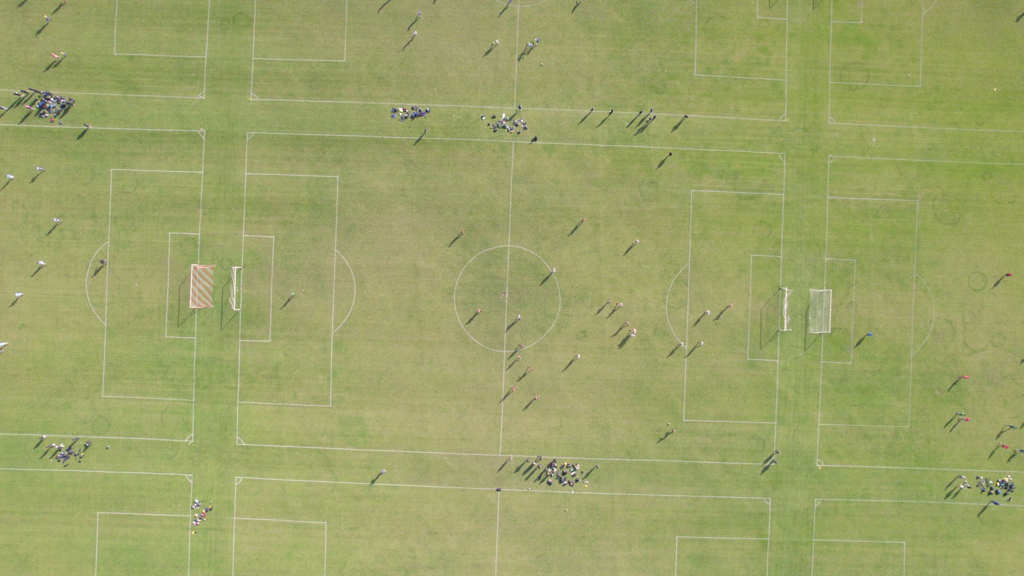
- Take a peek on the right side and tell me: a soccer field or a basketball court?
soccer field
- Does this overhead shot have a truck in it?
No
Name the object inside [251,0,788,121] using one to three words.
soccer field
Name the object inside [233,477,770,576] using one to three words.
soccer field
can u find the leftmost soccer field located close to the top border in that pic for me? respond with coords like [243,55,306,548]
[0,0,209,98]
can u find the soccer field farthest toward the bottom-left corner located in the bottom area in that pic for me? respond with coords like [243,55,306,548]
[0,468,193,576]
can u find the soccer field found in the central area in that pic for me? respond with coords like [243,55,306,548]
[236,132,785,464]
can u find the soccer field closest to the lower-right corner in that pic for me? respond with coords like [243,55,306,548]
[812,499,1024,576]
